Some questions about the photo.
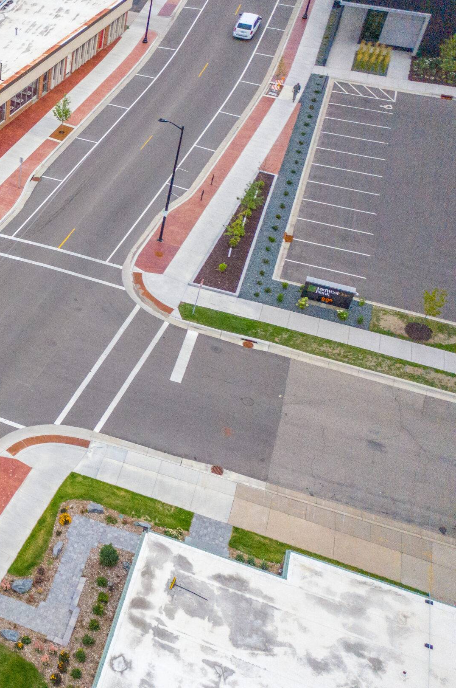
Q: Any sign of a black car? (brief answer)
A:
No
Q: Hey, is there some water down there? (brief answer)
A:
No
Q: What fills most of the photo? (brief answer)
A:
paved ground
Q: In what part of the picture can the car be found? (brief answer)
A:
top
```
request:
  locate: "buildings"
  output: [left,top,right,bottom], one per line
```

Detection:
[94,534,456,688]
[0,0,131,127]
[315,0,456,54]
